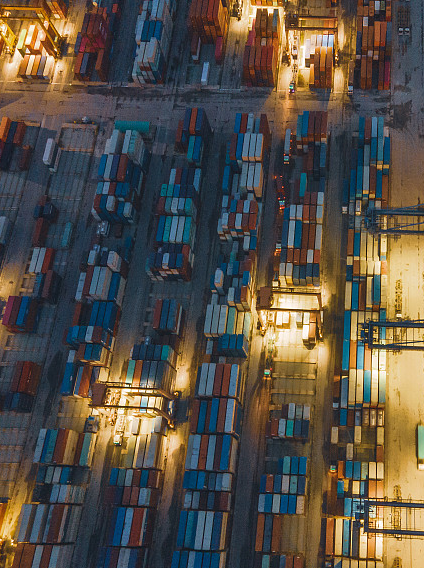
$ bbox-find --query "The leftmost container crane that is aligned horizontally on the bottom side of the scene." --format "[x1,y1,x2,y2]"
[86,381,180,425]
